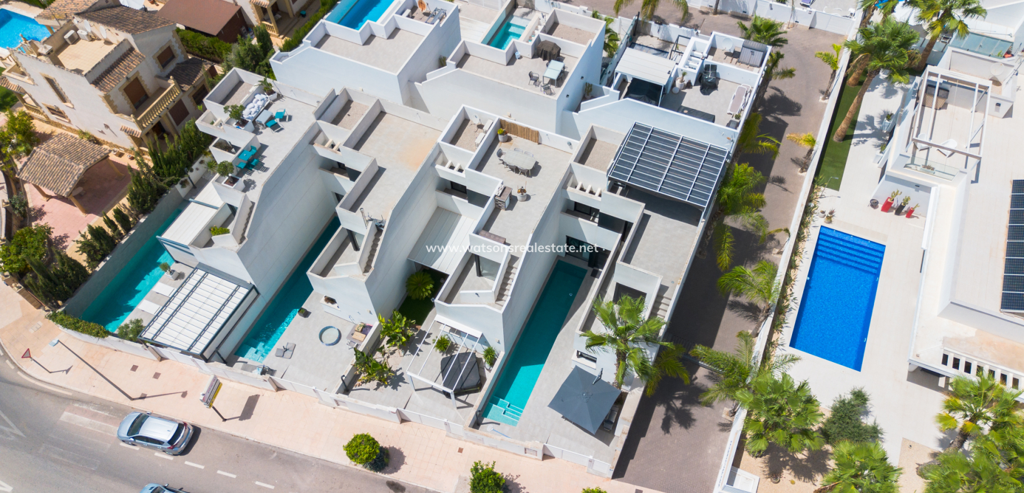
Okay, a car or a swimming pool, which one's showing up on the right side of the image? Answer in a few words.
swimming pool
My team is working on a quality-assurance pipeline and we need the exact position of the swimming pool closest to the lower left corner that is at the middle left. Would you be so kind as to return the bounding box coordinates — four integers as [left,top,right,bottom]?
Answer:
[79,238,178,330]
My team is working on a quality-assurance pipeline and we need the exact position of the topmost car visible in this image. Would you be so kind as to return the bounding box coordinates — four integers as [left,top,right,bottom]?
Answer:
[115,410,189,456]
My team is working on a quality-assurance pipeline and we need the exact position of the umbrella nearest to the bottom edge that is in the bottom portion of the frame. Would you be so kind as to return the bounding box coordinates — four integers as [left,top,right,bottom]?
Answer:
[548,366,621,435]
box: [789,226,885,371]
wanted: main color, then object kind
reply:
blue swimming pool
